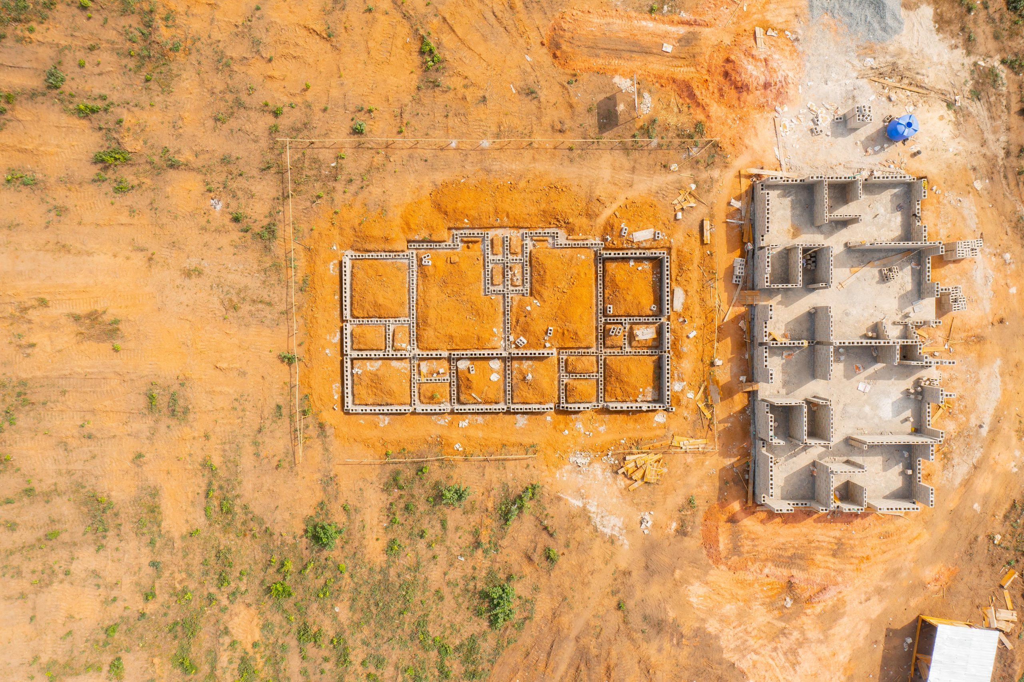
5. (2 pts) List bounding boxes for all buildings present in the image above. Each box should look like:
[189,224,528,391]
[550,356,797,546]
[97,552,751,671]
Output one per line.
[748,176,956,512]
[910,614,1003,682]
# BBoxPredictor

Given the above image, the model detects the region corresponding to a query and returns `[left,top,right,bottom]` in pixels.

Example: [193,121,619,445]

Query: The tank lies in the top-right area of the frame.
[886,112,921,141]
